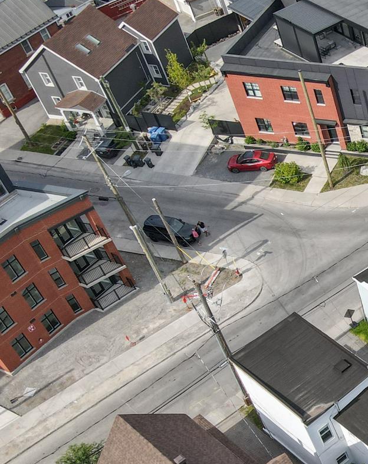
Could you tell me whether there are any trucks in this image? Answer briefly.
No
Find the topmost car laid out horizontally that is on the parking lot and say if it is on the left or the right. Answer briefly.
right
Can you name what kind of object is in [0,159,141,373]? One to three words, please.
building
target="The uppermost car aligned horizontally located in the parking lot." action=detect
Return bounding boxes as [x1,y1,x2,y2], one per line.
[221,149,276,173]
